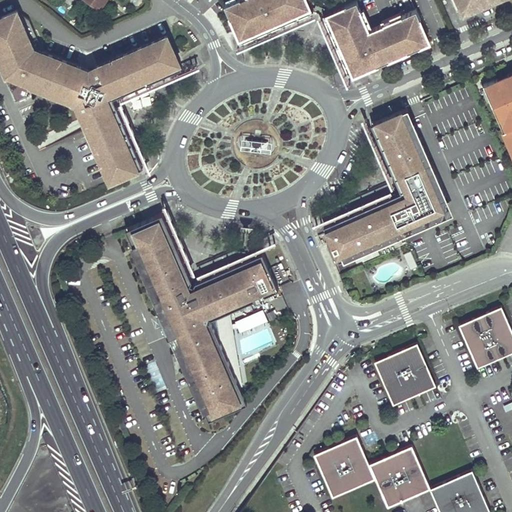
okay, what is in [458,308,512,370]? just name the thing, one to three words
building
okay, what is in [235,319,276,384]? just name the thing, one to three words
swimming pool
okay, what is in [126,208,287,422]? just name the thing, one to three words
building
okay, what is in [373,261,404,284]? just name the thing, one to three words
swimming pool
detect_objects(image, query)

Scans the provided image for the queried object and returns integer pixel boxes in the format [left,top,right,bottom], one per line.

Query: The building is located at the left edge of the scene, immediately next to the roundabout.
[0,12,200,189]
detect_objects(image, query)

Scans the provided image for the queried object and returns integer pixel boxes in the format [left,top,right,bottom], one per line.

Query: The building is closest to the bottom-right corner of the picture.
[430,472,490,512]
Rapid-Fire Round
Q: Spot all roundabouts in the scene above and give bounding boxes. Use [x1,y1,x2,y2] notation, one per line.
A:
[164,64,350,222]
